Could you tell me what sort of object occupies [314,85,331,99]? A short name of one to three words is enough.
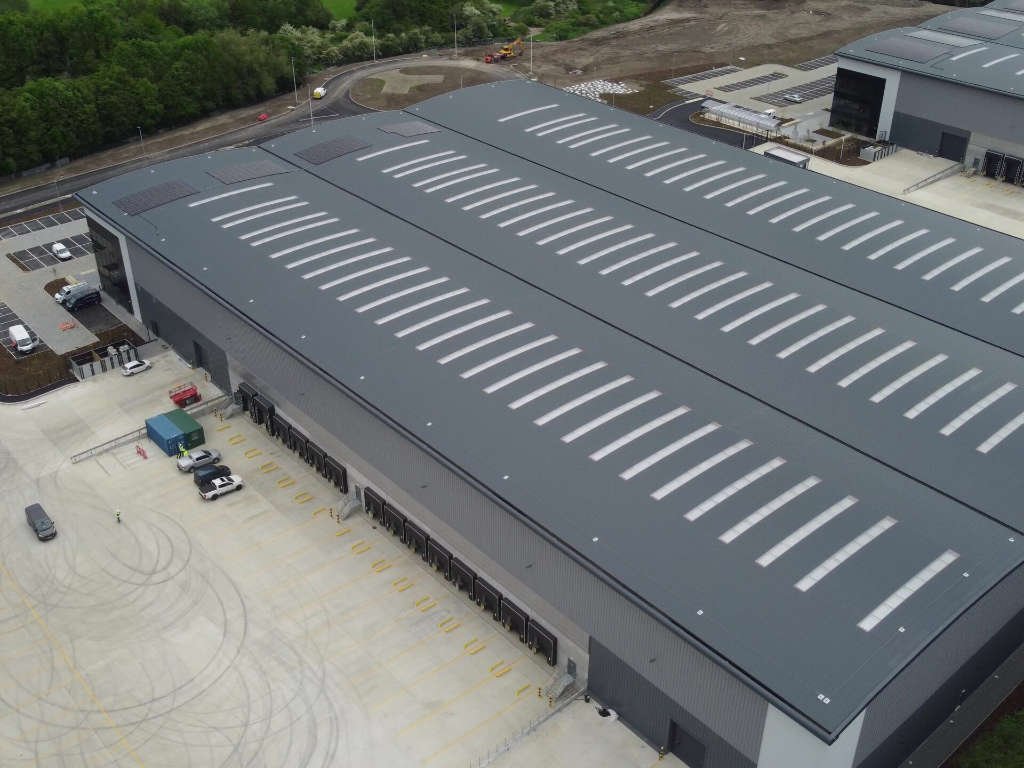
vehicle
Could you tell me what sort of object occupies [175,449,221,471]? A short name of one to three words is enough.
truck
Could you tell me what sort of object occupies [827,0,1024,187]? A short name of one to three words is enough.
warehouse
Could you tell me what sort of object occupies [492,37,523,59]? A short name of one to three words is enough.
work vehicle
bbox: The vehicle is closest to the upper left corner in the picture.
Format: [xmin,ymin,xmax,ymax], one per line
[51,239,72,257]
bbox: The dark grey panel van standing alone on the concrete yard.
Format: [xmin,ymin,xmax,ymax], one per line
[25,503,56,542]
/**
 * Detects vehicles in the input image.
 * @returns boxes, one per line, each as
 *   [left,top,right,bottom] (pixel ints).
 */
[175,449,221,471]
[63,284,101,307]
[9,324,41,354]
[51,239,72,257]
[53,276,93,301]
[314,85,331,99]
[198,477,245,501]
[25,503,56,542]
[766,107,777,120]
[783,92,803,102]
[492,37,523,59]
[189,465,235,488]
[118,360,153,376]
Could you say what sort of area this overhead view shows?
industrial area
